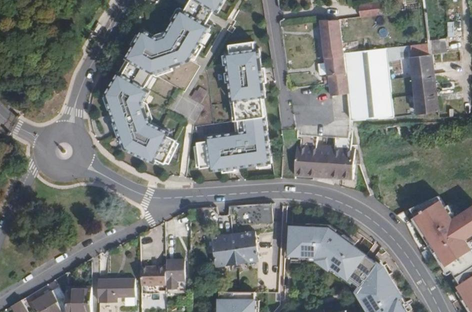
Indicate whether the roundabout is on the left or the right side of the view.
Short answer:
left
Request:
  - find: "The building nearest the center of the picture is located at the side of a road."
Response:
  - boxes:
[196,118,274,174]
